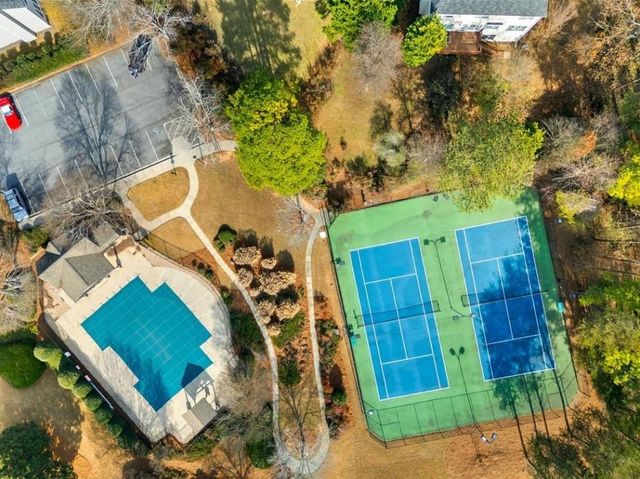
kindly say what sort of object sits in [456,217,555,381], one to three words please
tennis court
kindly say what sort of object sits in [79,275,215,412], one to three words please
swimming pool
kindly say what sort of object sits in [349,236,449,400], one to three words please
tennis court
